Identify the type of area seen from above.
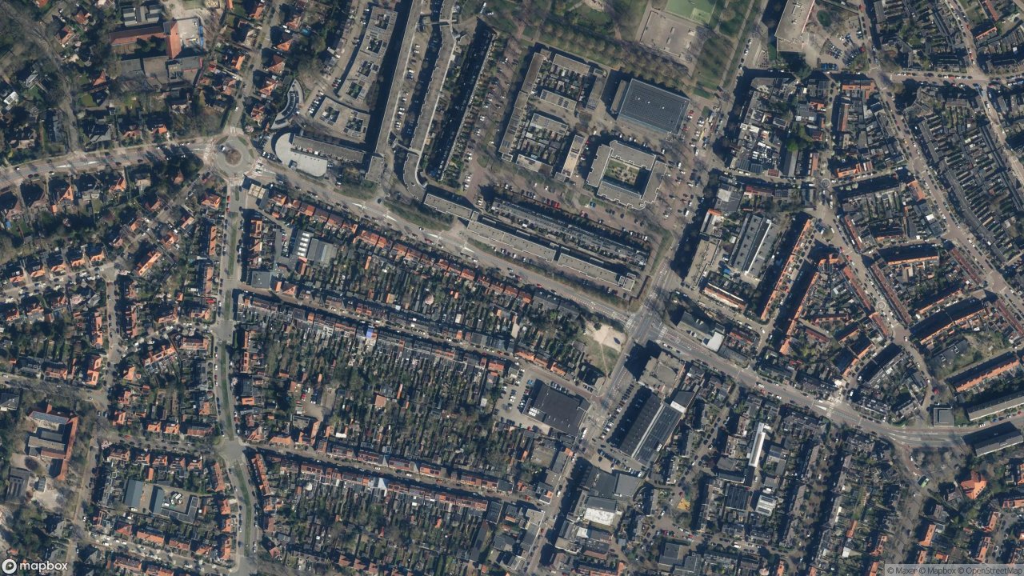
residential area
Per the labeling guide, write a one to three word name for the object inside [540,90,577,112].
building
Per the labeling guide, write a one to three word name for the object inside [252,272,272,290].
building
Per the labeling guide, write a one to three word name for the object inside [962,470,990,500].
house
